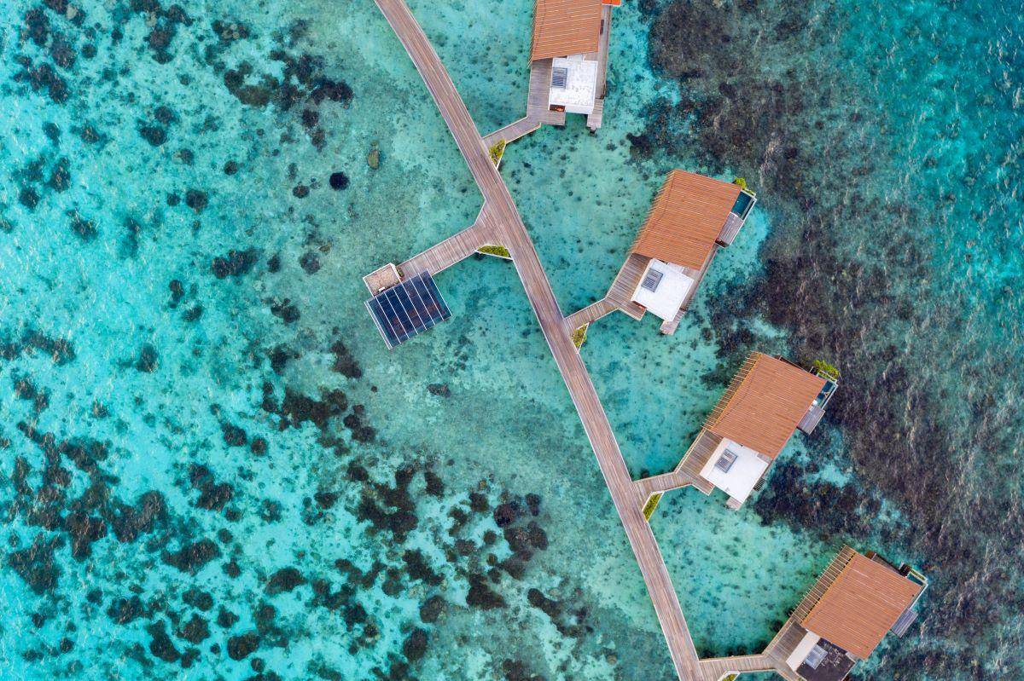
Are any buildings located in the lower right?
Yes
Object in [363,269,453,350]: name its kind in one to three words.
building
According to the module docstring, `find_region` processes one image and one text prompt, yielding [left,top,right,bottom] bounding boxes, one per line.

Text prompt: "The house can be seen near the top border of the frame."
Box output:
[525,0,612,140]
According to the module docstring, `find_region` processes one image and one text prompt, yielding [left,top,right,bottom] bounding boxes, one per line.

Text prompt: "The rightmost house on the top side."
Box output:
[605,171,757,337]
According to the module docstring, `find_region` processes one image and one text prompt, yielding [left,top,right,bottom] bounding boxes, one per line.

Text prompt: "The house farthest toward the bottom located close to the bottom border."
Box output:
[756,543,928,681]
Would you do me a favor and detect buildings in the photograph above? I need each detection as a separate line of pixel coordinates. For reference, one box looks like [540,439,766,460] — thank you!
[756,543,928,681]
[673,351,836,509]
[605,171,757,337]
[525,0,612,140]
[363,269,453,350]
